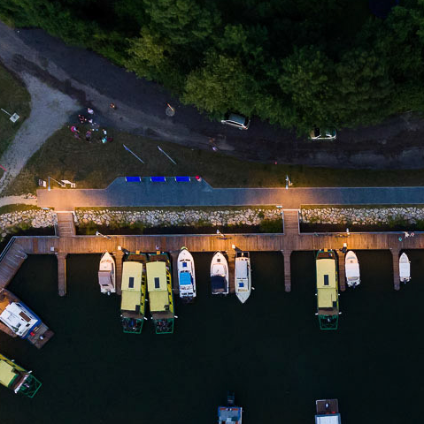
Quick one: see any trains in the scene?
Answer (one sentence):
No, this view has no train in it.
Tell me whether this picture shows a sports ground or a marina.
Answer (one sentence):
This image shows a marina.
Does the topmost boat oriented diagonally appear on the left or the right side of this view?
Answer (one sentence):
The topmost boat oriented diagonally sits on the left side.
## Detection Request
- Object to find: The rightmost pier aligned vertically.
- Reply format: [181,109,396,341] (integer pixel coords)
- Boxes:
[387,250,402,290]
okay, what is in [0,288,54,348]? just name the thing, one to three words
boat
